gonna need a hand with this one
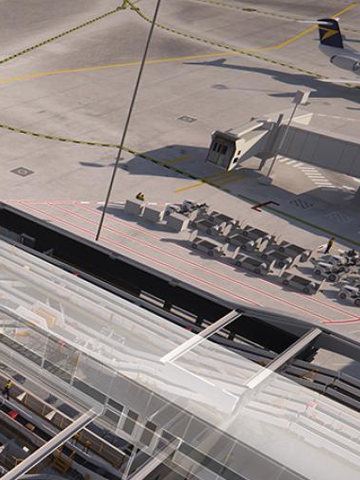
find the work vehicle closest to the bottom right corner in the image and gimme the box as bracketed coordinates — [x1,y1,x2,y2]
[333,281,360,305]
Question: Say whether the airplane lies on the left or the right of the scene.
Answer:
right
